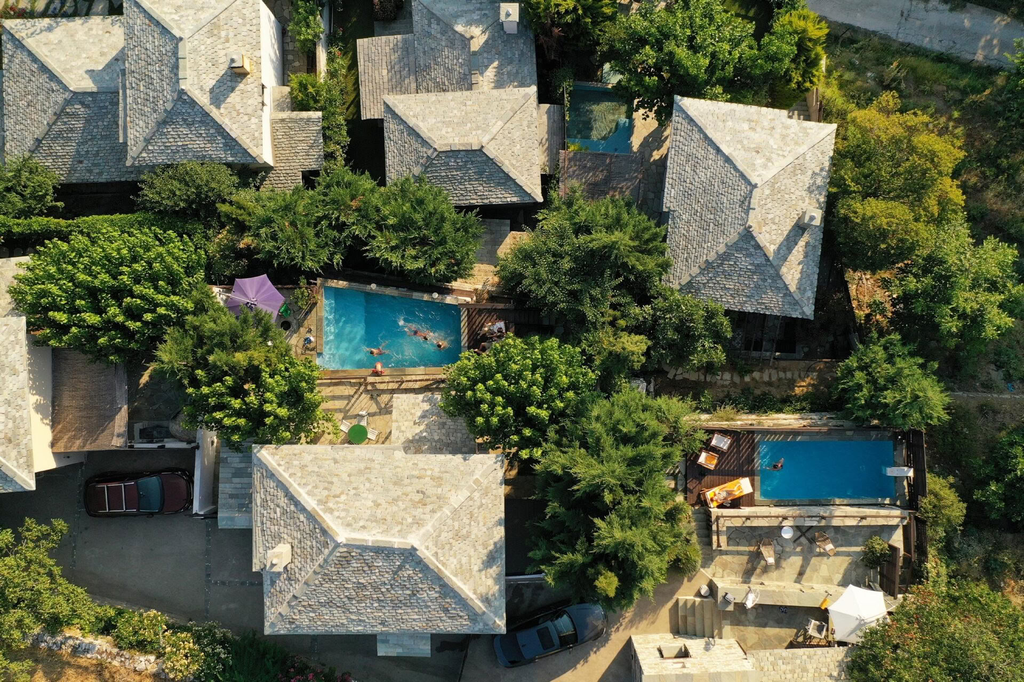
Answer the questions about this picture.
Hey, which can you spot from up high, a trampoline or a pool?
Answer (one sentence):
The one in the frame is a pool.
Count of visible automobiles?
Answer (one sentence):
The picture shows 2 automobiles.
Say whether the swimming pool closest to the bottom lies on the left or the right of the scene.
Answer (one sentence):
You can find the swimming pool closest to the bottom on the right side of the picture.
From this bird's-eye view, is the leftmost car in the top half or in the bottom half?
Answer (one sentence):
You can find the leftmost car in the bottom half.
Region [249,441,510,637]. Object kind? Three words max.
house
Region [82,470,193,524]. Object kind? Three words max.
car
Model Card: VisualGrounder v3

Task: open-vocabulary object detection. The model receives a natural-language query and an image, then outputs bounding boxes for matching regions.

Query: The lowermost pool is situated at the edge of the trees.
[752,433,909,505]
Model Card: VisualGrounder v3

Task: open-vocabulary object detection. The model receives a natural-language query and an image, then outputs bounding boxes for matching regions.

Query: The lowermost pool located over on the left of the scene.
[317,279,475,378]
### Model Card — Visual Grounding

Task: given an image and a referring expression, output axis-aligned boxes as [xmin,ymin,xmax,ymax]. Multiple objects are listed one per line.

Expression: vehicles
[492,596,609,671]
[82,470,193,524]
